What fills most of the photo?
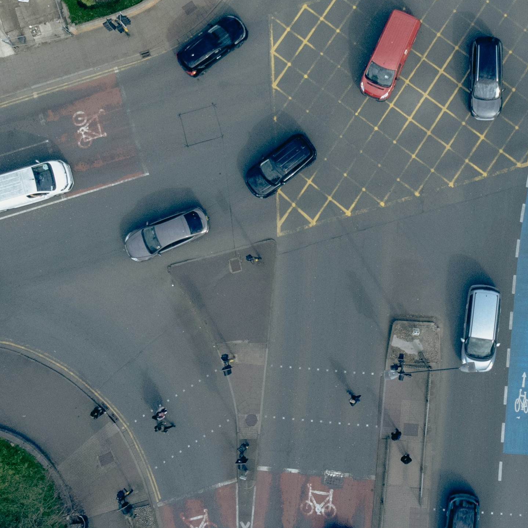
paved ground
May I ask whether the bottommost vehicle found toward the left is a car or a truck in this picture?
car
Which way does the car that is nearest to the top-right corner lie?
up and down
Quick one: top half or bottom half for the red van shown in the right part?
top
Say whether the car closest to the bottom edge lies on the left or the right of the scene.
right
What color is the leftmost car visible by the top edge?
black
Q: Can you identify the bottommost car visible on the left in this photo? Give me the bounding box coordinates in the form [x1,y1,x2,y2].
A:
[127,209,211,263]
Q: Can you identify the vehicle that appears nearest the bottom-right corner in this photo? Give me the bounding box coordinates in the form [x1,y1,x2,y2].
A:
[444,487,480,528]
